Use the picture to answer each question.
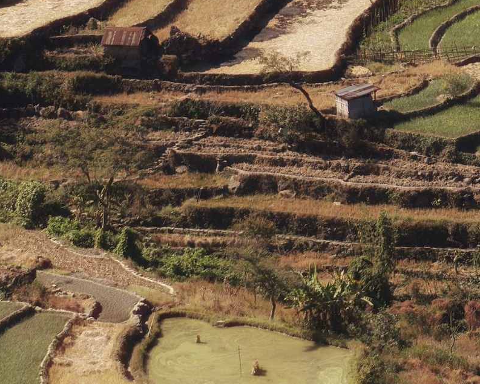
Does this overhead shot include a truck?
No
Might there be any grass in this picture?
Yes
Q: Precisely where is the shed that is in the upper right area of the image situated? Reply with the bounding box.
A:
[337,79,386,117]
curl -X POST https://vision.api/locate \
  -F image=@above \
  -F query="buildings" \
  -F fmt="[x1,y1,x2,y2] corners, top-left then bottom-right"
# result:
[99,24,148,70]
[337,79,386,117]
